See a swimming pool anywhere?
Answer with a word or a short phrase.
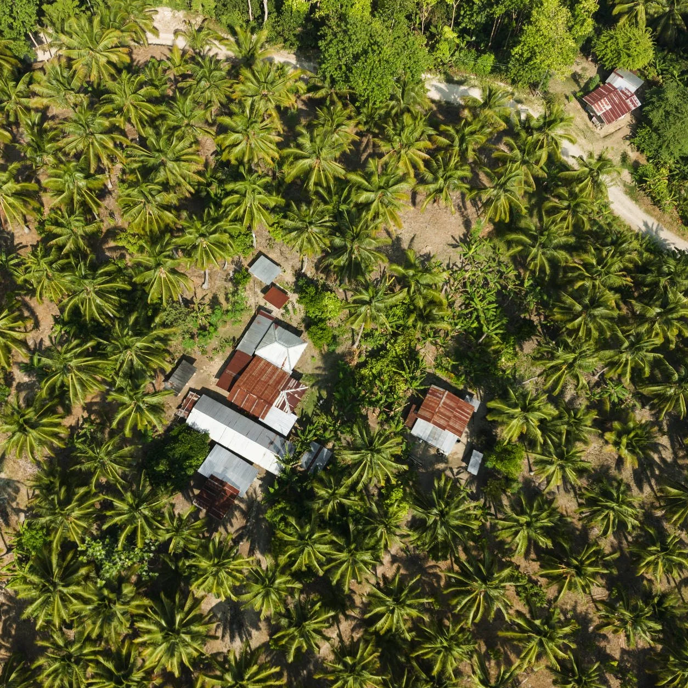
No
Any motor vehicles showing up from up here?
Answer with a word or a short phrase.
No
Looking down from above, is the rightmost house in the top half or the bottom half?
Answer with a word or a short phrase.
top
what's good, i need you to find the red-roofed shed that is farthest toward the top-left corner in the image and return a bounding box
[263,286,289,313]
